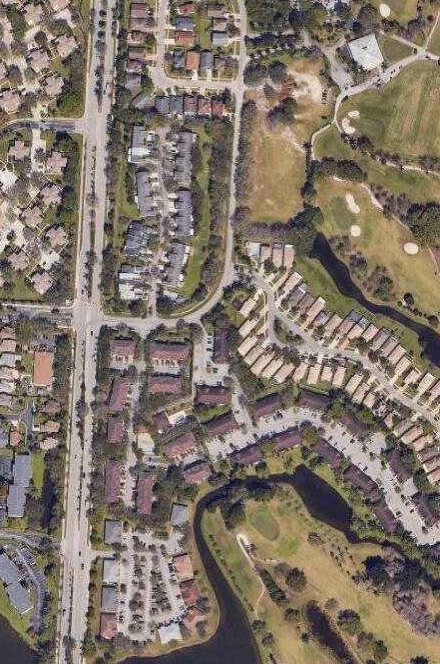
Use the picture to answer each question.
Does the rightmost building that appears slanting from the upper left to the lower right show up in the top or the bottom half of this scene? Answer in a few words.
bottom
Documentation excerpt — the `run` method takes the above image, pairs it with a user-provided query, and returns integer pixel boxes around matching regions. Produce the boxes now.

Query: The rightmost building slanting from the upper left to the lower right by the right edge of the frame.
[411,491,440,529]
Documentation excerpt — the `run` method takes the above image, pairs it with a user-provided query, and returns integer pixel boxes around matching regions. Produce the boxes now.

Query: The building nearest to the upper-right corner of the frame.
[349,33,384,70]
